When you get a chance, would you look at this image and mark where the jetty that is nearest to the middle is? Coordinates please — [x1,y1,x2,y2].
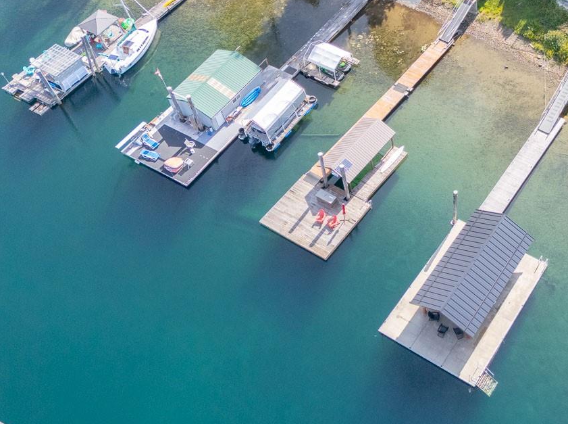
[259,173,372,262]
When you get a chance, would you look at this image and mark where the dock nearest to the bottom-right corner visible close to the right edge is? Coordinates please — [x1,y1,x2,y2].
[378,219,549,389]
